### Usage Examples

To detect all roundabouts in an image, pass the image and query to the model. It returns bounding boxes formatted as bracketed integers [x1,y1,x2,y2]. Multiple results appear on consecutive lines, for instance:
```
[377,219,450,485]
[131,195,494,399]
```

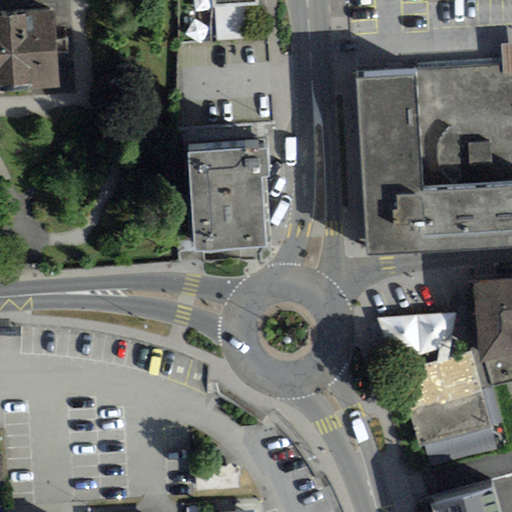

[220,263,356,398]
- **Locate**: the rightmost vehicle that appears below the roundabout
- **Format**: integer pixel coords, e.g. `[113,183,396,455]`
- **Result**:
[348,410,368,444]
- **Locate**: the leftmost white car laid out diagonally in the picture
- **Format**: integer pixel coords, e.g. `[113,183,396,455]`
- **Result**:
[229,336,252,354]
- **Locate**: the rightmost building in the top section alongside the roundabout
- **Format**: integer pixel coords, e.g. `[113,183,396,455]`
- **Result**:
[358,56,512,254]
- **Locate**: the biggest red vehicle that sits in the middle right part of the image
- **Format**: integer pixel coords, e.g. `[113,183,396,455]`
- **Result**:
[420,284,435,307]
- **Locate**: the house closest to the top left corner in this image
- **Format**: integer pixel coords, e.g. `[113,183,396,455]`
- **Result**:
[0,10,70,92]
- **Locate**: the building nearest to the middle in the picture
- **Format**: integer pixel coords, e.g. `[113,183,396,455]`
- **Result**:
[188,133,274,252]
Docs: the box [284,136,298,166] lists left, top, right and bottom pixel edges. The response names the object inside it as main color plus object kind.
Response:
white vehicle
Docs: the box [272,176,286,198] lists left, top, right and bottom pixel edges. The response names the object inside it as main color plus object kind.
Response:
white car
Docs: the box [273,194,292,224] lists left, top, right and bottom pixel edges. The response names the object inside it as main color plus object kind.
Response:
white vehicle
